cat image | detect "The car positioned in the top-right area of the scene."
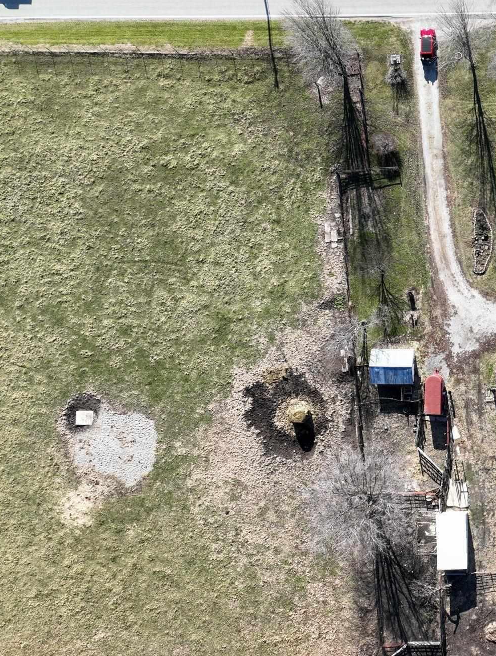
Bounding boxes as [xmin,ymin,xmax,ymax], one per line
[419,26,436,59]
